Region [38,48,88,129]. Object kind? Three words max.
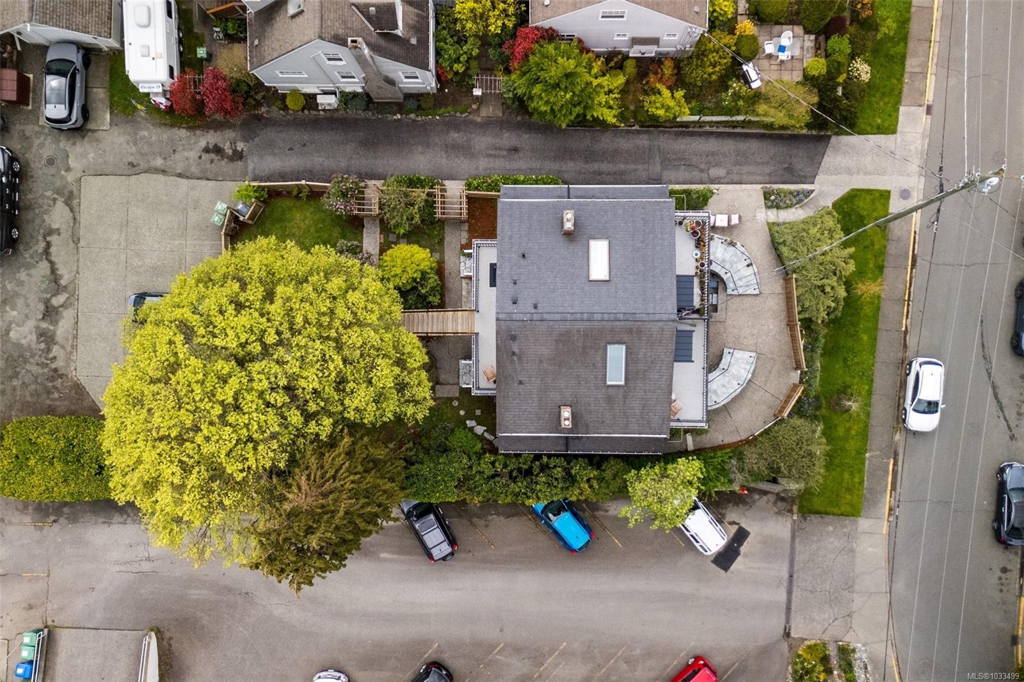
car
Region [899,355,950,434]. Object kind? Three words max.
car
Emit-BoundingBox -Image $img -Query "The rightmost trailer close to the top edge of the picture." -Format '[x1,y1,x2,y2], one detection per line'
[123,0,186,121]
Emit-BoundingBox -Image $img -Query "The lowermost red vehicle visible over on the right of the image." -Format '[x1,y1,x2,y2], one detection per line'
[666,650,719,682]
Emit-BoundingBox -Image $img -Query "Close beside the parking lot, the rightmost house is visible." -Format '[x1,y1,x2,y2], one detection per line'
[474,185,708,456]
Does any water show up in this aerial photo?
No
